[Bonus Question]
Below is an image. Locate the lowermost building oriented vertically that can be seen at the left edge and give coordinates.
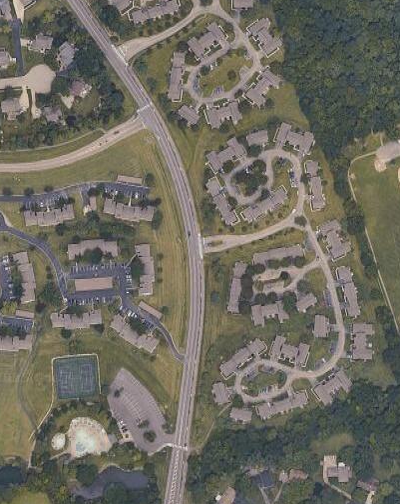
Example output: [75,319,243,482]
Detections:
[12,250,35,305]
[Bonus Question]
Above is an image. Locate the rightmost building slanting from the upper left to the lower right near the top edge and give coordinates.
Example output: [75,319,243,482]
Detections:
[242,15,288,62]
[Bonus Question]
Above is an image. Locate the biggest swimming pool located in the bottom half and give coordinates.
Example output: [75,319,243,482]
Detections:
[68,416,111,457]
